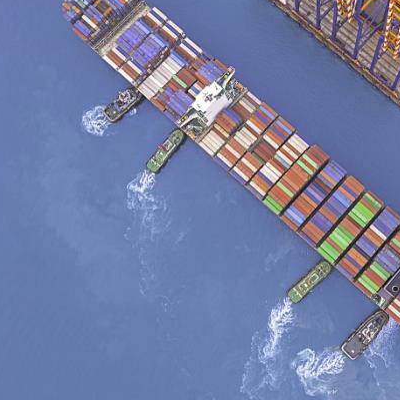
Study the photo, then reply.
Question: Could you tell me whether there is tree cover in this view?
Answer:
No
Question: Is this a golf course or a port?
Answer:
port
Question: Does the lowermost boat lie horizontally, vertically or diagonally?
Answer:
diagonally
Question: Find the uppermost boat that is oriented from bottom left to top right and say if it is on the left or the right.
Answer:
left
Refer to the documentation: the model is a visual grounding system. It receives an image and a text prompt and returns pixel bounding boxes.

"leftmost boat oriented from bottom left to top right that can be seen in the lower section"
[289,261,332,302]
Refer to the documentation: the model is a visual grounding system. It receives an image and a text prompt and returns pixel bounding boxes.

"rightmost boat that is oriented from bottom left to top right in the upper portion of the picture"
[148,130,187,173]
